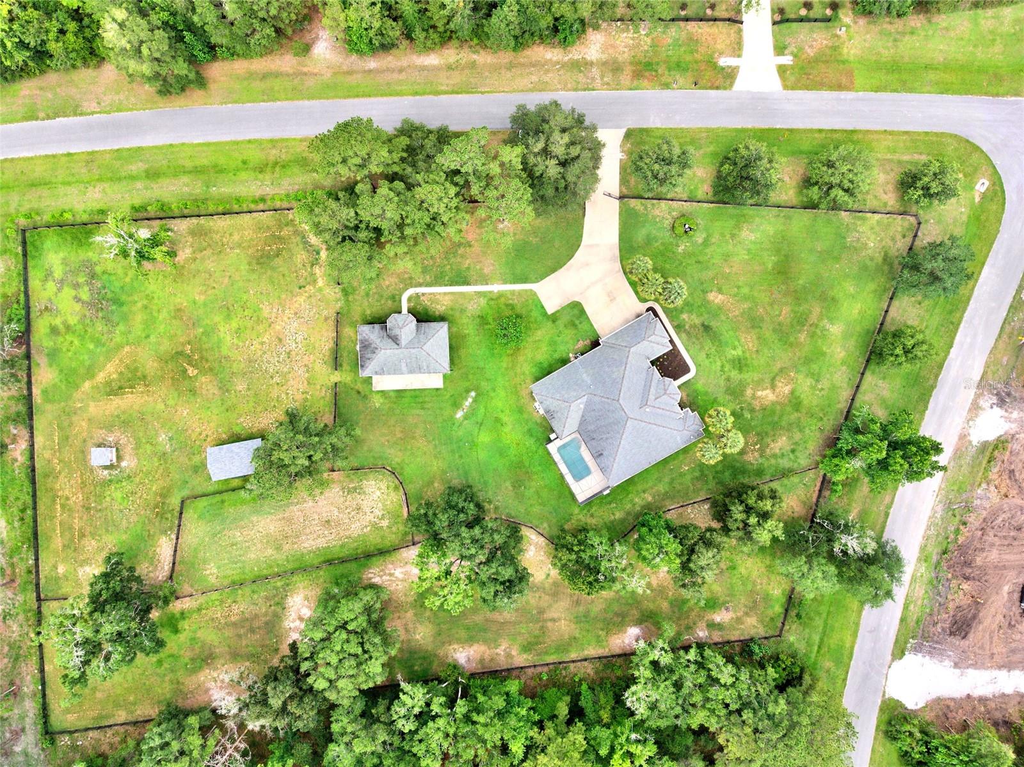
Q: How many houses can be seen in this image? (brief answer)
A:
2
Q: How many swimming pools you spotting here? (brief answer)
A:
1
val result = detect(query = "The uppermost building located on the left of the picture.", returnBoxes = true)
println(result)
[355,313,450,390]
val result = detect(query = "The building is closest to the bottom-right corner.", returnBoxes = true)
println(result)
[529,311,706,488]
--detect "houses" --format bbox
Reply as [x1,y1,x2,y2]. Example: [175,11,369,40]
[355,313,450,390]
[529,311,706,488]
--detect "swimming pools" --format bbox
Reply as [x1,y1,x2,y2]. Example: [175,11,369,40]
[548,431,608,503]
